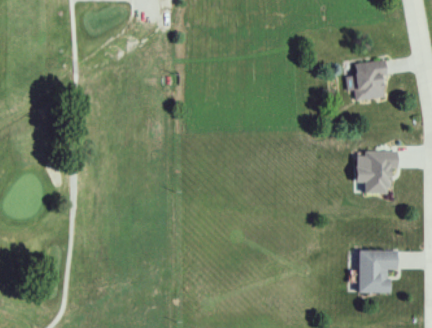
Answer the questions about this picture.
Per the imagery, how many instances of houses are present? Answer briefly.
3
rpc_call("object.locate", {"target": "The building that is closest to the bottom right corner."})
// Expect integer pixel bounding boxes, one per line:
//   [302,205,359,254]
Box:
[350,250,399,294]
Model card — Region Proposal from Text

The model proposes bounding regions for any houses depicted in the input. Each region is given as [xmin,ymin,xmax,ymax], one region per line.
[346,62,388,100]
[358,151,400,194]
[350,250,399,294]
